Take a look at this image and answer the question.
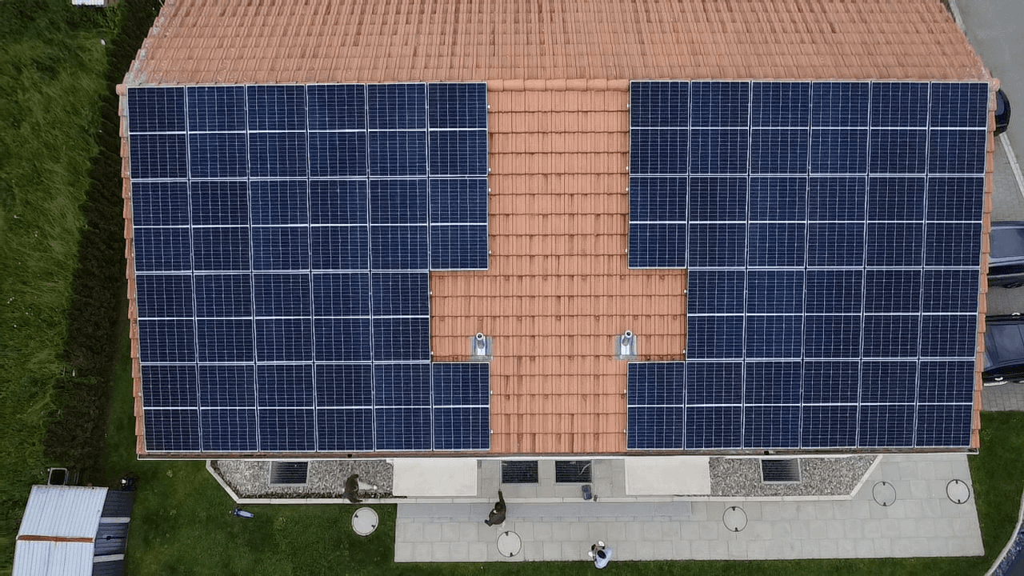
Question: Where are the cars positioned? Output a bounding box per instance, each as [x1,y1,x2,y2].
[990,216,1024,289]
[996,75,1021,137]
[985,316,1024,385]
